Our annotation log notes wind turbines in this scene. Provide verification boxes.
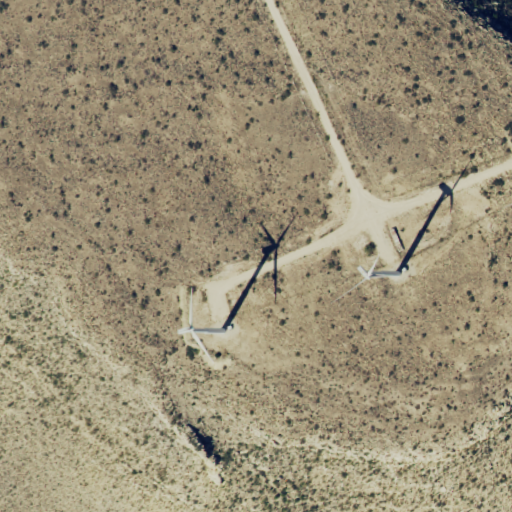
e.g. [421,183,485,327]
[170,294,230,364]
[336,246,405,308]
